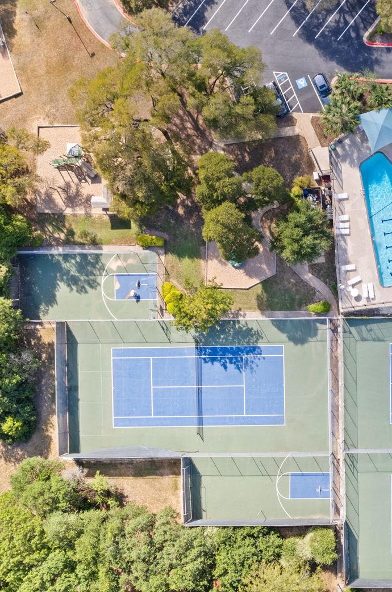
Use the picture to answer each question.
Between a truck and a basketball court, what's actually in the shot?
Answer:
basketball court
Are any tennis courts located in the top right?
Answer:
No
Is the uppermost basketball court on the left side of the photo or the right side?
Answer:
left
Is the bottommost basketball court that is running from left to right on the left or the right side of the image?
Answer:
right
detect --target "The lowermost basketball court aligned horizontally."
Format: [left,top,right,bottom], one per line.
[190,453,335,521]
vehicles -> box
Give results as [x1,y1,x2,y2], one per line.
[312,73,335,108]
[266,79,293,117]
